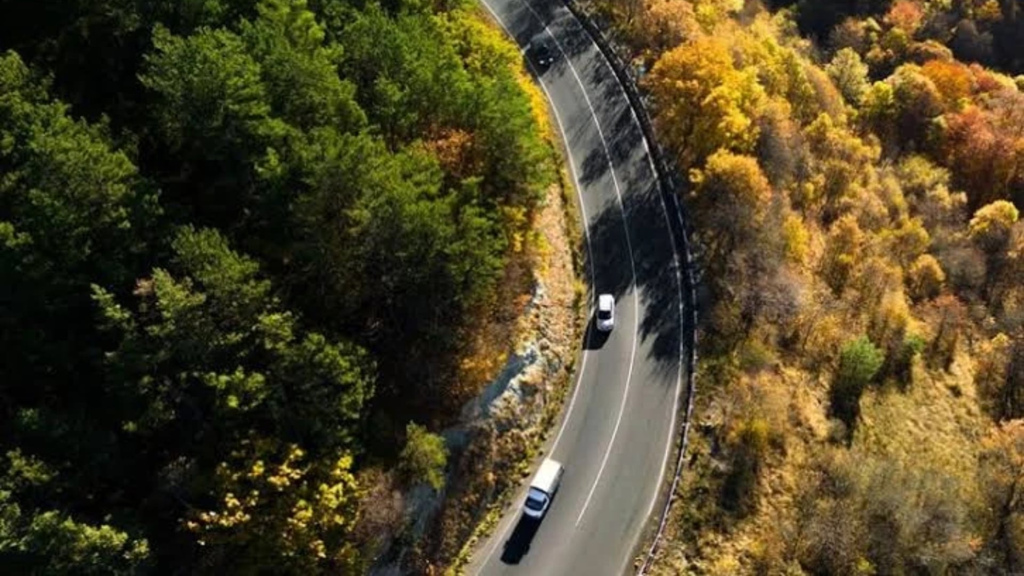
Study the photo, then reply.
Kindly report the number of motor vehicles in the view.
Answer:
3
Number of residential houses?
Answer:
0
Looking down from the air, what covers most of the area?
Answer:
trees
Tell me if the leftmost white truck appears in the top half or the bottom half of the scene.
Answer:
bottom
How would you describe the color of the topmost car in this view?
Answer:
black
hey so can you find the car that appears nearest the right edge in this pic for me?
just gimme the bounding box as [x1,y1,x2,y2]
[594,292,615,329]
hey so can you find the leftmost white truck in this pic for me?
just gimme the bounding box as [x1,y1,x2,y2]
[519,454,564,526]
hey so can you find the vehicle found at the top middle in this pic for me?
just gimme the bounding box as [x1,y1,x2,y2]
[532,40,556,68]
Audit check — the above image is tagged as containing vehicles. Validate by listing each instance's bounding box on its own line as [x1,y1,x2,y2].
[519,454,564,526]
[594,292,615,329]
[532,40,556,68]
